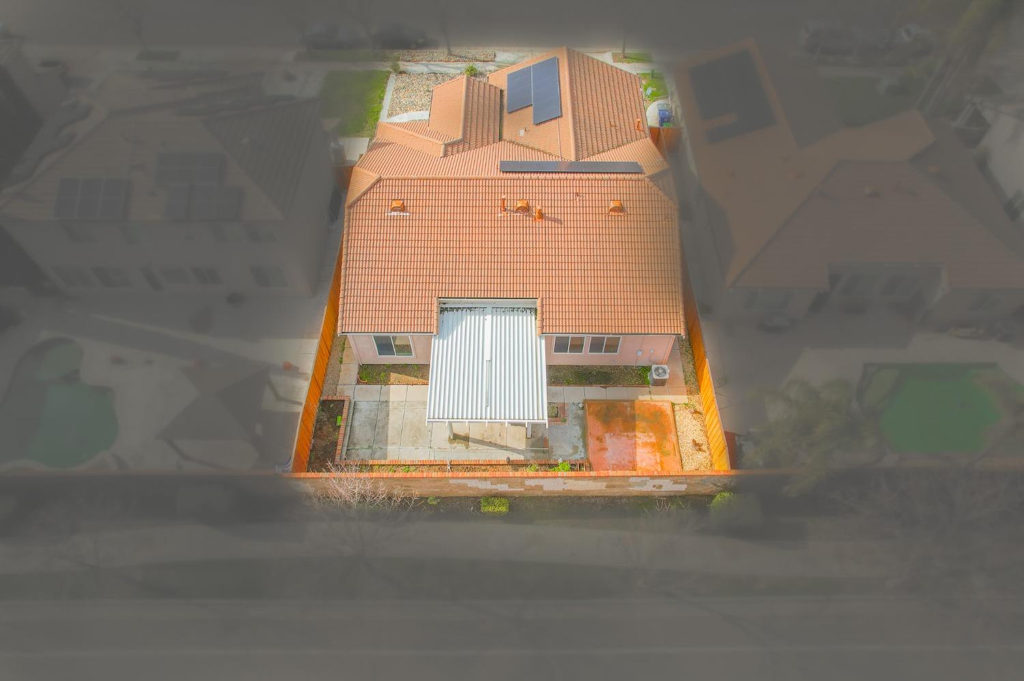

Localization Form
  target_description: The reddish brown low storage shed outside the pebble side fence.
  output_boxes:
[716,432,748,472]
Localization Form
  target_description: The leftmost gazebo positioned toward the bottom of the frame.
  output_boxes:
[157,367,284,460]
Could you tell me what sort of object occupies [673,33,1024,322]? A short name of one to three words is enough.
house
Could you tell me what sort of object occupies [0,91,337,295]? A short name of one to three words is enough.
house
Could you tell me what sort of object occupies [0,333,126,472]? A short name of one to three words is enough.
swimming pool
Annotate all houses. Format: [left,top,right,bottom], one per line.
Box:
[673,33,1024,322]
[336,46,688,366]
[0,91,337,295]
